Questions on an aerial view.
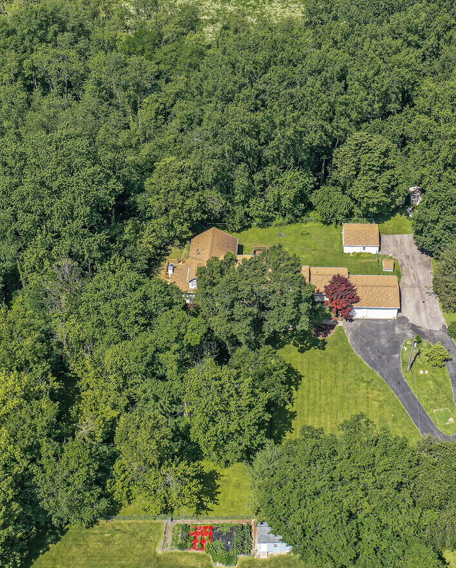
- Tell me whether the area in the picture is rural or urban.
rural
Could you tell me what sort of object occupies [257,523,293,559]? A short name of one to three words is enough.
shed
